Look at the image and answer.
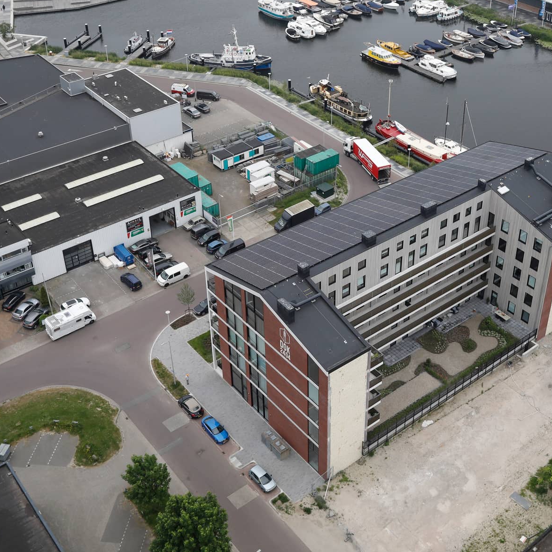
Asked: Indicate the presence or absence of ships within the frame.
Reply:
Yes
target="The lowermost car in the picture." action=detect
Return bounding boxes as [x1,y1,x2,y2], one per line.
[247,463,277,496]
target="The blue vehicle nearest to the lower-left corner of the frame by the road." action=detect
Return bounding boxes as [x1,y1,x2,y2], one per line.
[200,413,230,445]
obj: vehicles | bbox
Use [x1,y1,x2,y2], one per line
[189,222,217,238]
[8,298,42,321]
[203,240,225,255]
[200,413,230,445]
[215,234,247,257]
[195,229,223,247]
[19,308,52,330]
[175,393,208,420]
[196,87,220,101]
[314,202,335,216]
[157,258,191,284]
[143,251,174,268]
[346,140,392,186]
[47,308,97,341]
[190,296,217,316]
[171,82,195,96]
[150,256,180,277]
[117,274,144,290]
[247,463,277,496]
[277,202,314,230]
[58,296,93,312]
[135,244,167,260]
[182,107,202,117]
[193,102,213,113]
[0,290,29,312]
